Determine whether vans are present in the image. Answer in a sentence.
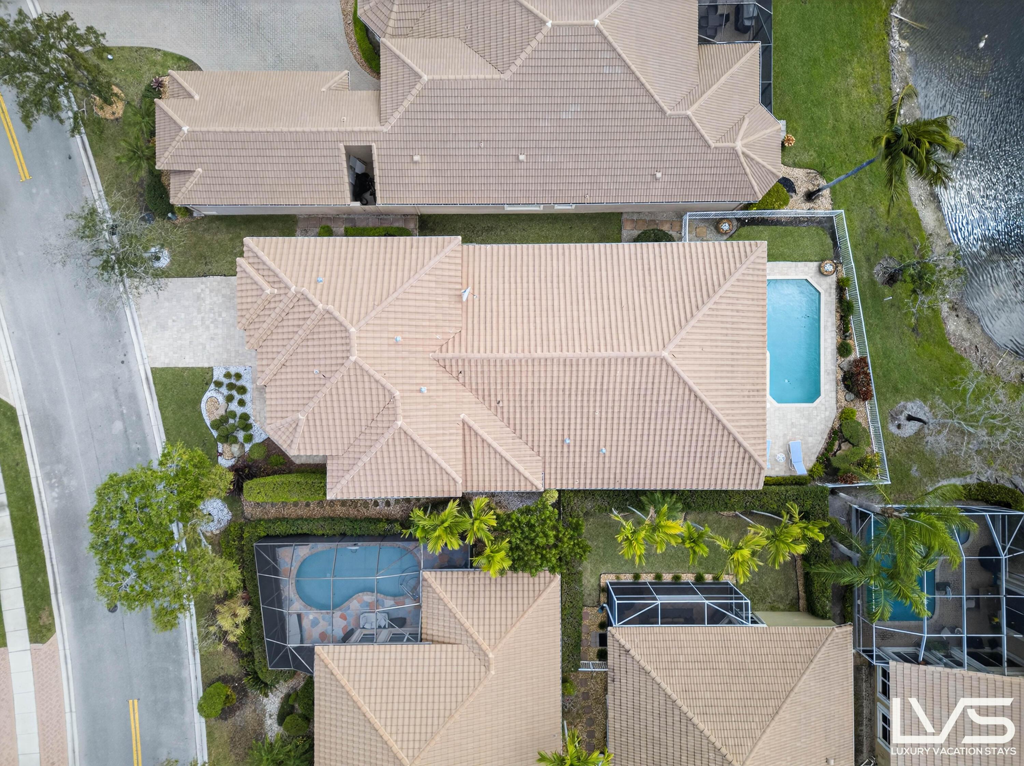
No, no van can be seen from above.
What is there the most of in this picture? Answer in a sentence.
Most of the picture is covered by buildings.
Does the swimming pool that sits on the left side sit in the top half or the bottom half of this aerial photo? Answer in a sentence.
The bottom half of the photo is where the swimming pool that sits on the left side is.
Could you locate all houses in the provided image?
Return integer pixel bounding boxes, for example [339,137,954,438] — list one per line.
[870,573,1024,766]
[311,567,564,766]
[235,234,770,502]
[606,612,860,766]
[153,0,784,220]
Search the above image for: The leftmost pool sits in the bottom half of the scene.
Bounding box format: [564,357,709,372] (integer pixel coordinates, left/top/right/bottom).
[291,543,423,616]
